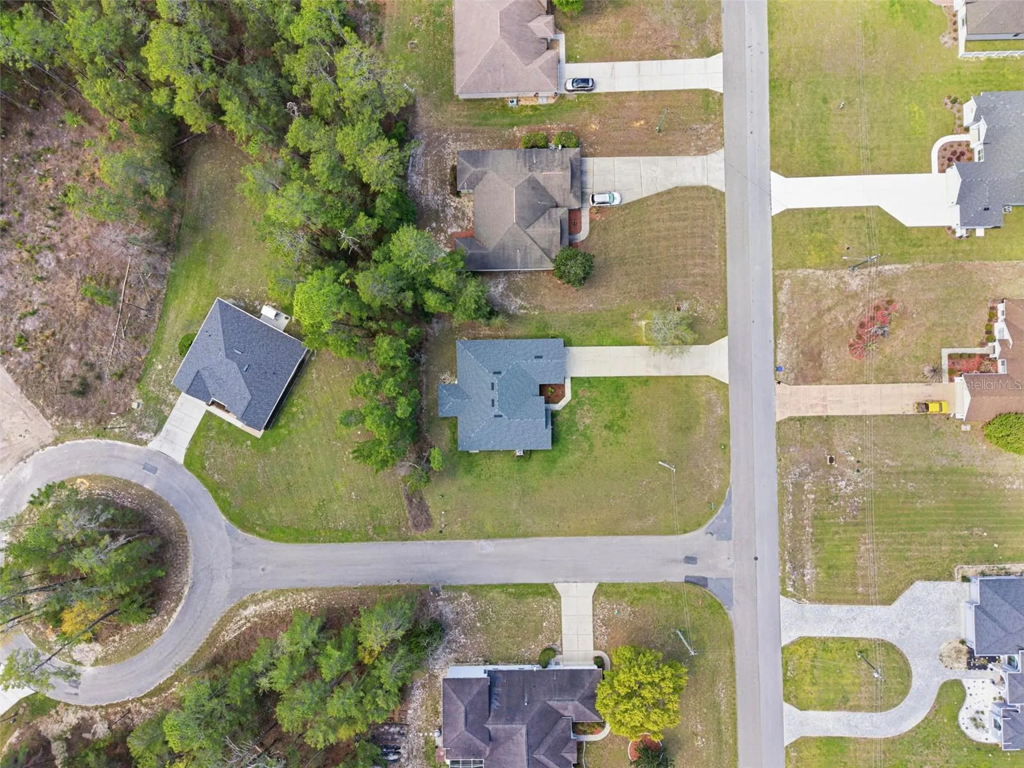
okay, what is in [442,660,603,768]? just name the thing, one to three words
house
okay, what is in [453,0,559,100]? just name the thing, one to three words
house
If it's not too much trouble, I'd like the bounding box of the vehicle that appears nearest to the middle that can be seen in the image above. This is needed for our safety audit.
[590,191,621,207]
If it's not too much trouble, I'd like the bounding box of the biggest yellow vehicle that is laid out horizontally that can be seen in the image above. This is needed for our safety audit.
[914,400,948,414]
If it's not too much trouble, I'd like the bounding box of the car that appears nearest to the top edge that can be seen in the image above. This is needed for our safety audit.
[565,76,594,93]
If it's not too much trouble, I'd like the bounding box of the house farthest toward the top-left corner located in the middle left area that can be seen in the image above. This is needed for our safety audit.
[171,298,311,432]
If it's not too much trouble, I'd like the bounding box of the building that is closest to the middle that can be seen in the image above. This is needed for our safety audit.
[437,338,565,452]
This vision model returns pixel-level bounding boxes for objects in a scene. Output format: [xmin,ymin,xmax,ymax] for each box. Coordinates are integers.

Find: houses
[437,338,565,452]
[442,660,603,768]
[946,0,1024,40]
[453,0,559,100]
[944,91,1024,230]
[171,298,311,432]
[953,299,1024,421]
[964,576,1024,751]
[455,146,582,273]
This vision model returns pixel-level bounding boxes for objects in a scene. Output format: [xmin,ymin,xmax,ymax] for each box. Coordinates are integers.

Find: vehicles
[565,76,594,93]
[590,191,621,207]
[914,400,948,414]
